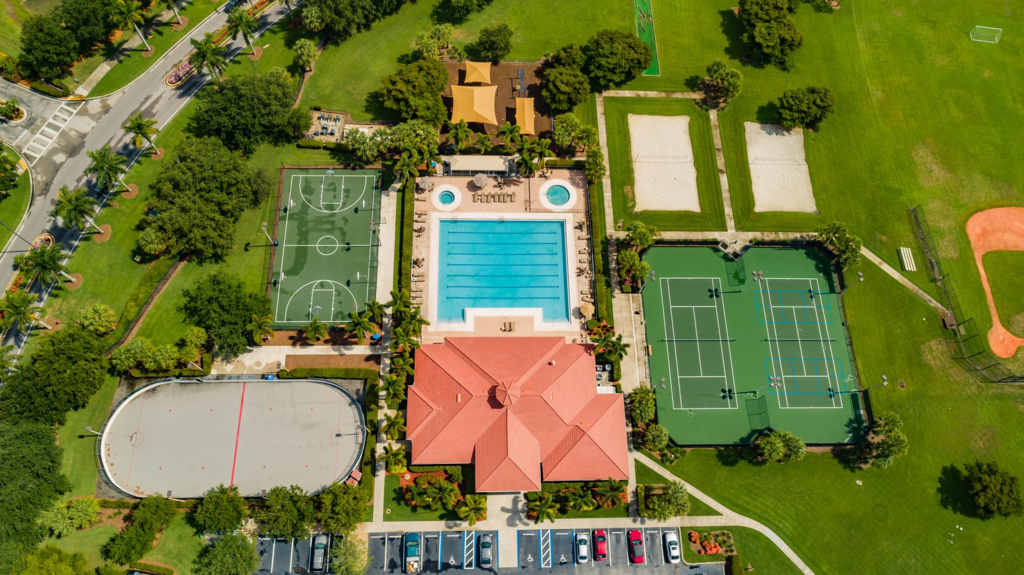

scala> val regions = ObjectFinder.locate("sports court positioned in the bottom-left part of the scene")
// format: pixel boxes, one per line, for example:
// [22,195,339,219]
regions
[98,377,363,499]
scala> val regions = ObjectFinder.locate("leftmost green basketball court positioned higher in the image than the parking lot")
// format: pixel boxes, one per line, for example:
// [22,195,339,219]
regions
[271,168,382,330]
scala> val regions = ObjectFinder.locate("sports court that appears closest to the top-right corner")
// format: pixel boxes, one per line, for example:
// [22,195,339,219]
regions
[745,121,817,214]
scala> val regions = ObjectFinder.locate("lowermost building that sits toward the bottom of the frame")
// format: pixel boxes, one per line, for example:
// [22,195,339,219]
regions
[406,336,630,492]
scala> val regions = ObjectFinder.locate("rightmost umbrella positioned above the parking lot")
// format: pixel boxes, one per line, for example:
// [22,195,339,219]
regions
[580,300,596,316]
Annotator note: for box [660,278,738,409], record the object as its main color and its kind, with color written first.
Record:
green tennis court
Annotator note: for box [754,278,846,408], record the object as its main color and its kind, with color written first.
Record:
green tennis court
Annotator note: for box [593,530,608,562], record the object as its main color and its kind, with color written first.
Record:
red car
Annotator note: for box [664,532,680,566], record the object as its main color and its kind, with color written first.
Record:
white car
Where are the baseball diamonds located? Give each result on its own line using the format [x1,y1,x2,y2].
[967,206,1024,358]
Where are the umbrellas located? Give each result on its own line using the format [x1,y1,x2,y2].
[416,172,432,186]
[473,171,489,185]
[580,300,596,316]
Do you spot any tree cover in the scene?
Yes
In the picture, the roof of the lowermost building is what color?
red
